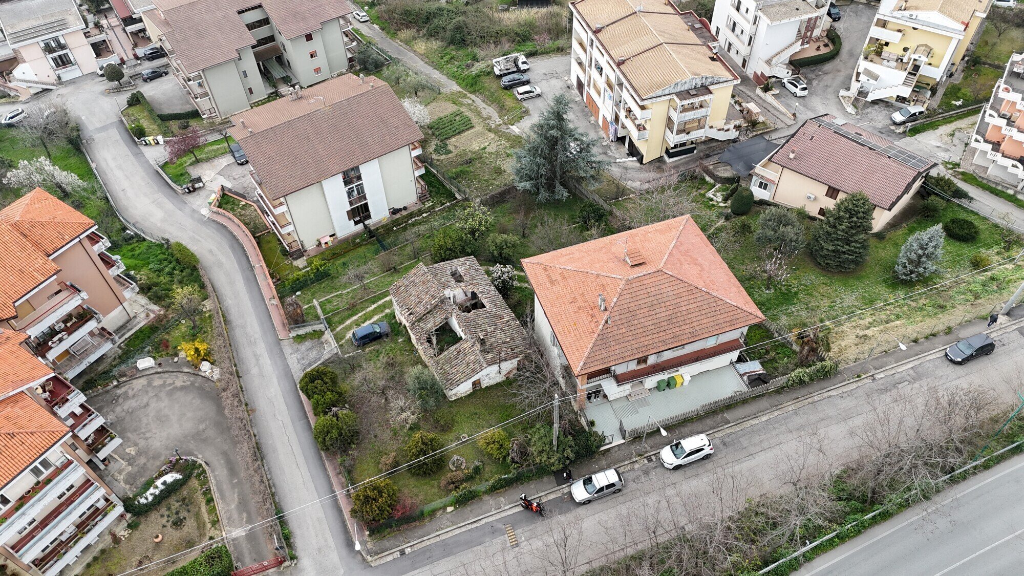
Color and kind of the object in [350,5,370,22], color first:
white car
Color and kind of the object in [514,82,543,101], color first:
white car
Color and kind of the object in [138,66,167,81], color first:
gray car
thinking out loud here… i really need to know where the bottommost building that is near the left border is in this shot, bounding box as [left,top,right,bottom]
[0,189,163,576]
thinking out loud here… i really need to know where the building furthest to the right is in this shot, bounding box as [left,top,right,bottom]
[960,66,1024,181]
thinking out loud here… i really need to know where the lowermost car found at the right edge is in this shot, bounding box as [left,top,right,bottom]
[950,335,1006,367]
